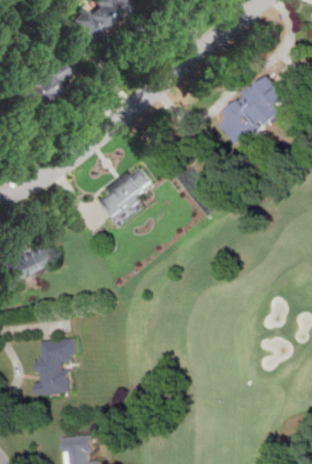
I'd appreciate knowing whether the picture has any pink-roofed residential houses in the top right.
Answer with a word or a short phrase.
No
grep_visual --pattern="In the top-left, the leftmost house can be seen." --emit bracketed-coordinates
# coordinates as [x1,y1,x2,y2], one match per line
[41,64,74,100]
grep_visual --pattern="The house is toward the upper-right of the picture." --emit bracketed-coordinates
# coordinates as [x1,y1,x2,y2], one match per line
[217,81,279,139]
